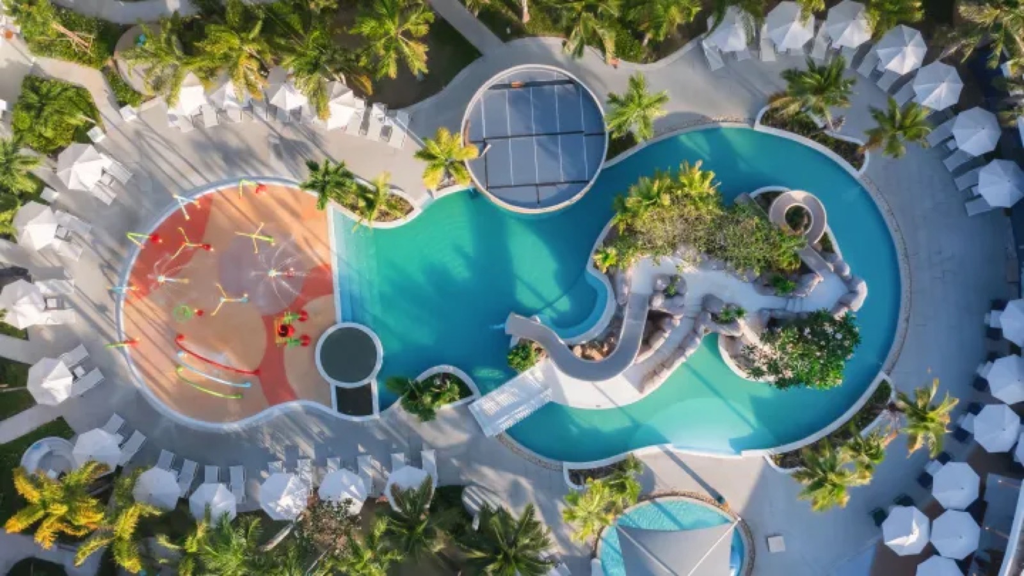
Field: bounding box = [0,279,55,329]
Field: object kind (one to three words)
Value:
umbrella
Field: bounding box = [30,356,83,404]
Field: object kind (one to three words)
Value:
umbrella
